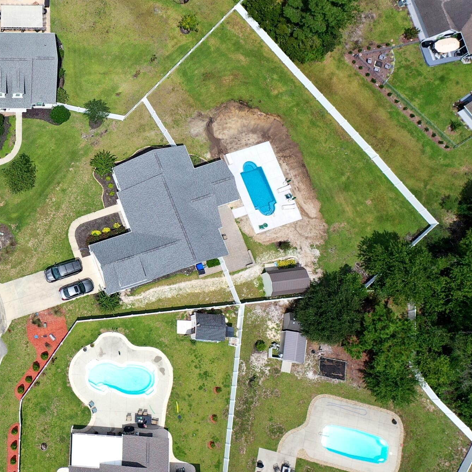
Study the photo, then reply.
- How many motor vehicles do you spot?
two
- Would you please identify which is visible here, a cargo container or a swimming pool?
swimming pool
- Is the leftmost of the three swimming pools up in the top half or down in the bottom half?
bottom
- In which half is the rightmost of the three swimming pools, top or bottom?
bottom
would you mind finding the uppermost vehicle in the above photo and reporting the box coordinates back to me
[45,257,83,279]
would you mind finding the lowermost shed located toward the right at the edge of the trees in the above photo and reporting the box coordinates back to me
[274,331,307,363]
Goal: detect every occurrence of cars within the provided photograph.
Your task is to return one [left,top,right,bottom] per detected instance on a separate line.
[45,257,83,279]
[60,278,95,301]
